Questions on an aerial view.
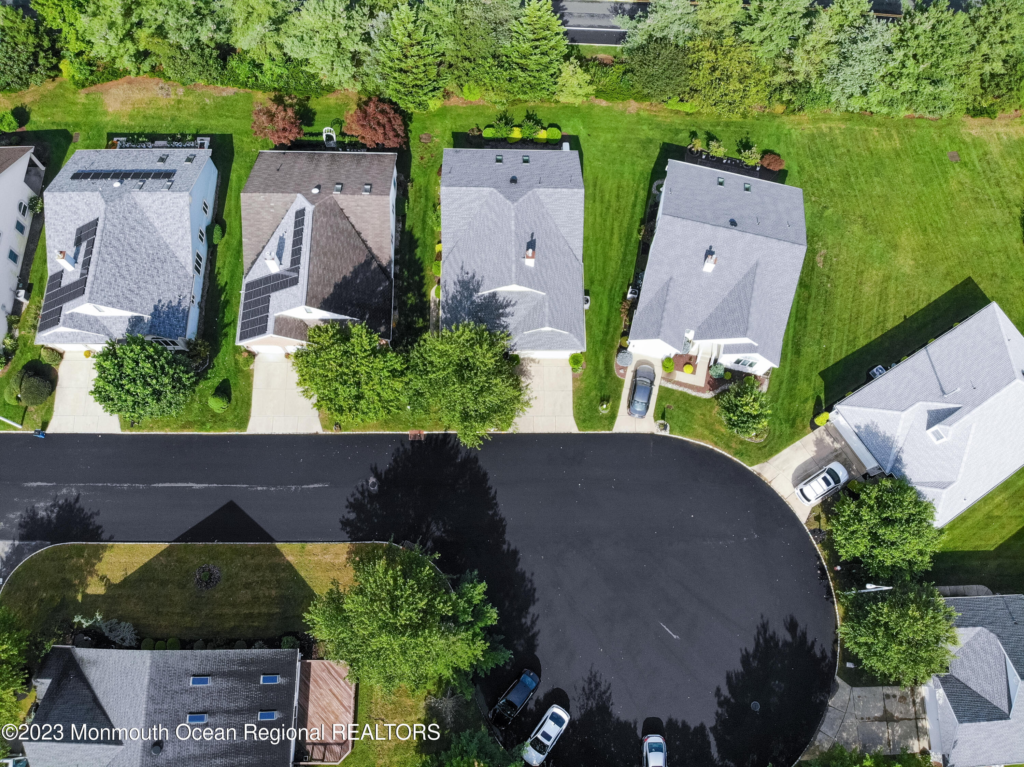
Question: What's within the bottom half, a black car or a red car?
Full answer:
The one visible within the bottom half is a black car.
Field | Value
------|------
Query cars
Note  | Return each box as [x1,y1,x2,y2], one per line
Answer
[487,667,543,729]
[627,364,658,421]
[0,752,28,767]
[792,464,849,509]
[520,702,573,767]
[640,733,667,767]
